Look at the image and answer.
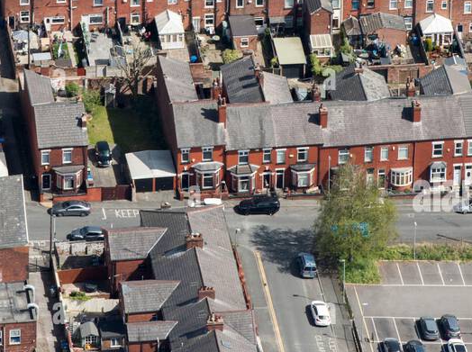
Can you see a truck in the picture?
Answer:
No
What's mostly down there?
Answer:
buildings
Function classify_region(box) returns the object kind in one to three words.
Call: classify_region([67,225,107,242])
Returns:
car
